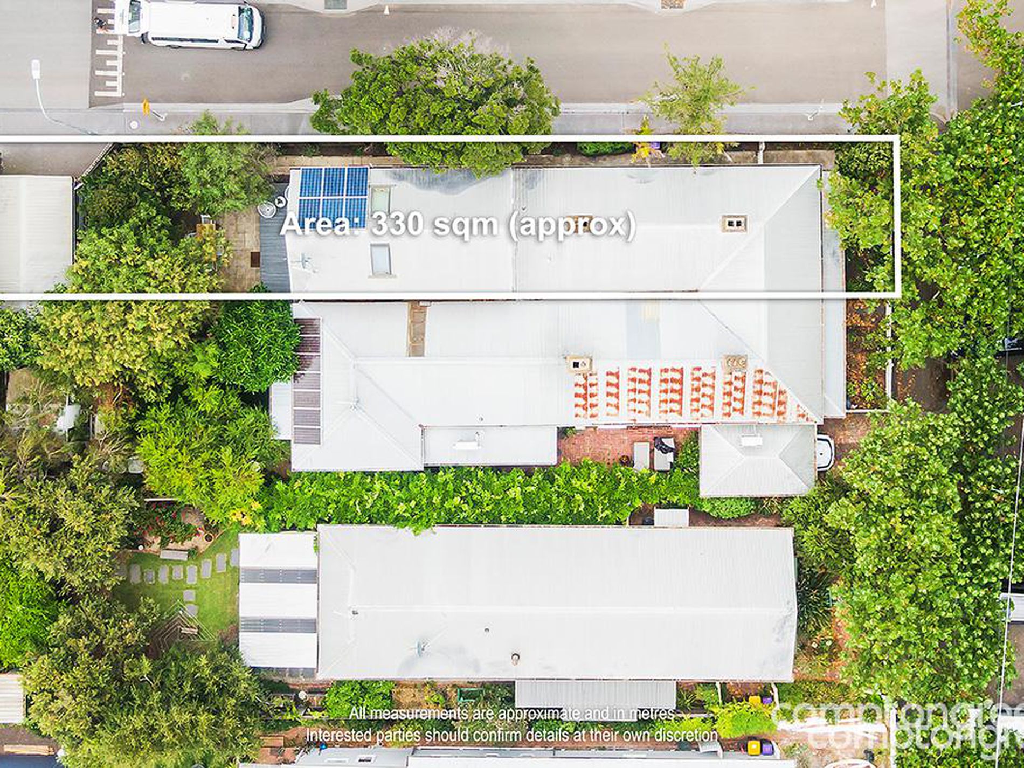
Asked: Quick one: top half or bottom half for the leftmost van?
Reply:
top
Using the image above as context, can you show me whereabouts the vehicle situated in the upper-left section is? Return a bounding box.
[114,0,267,53]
